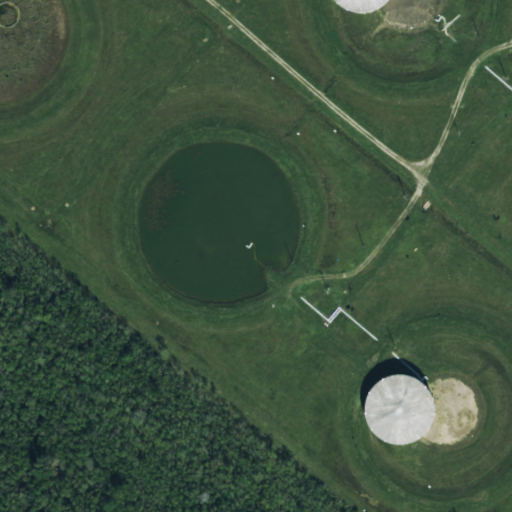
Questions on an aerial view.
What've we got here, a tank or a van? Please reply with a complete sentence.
Of the two, only a tank appears.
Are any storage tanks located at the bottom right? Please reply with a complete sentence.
Yes, I can see a storage tank at the bottom right.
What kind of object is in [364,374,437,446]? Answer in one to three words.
storage tank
